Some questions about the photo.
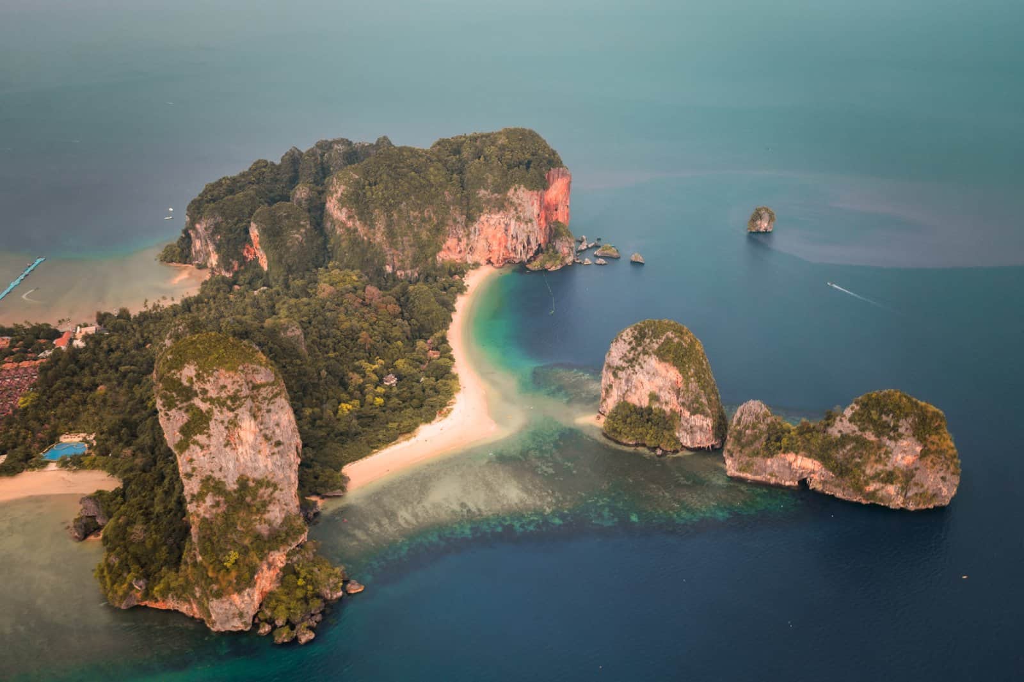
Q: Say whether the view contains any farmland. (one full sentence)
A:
No, the picture contains no farmland.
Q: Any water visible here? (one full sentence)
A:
Yes, water can be seen from above here.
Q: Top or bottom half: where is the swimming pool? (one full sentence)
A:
You can find the swimming pool in the bottom half.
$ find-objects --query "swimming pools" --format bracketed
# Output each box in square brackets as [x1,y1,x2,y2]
[42,438,86,458]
